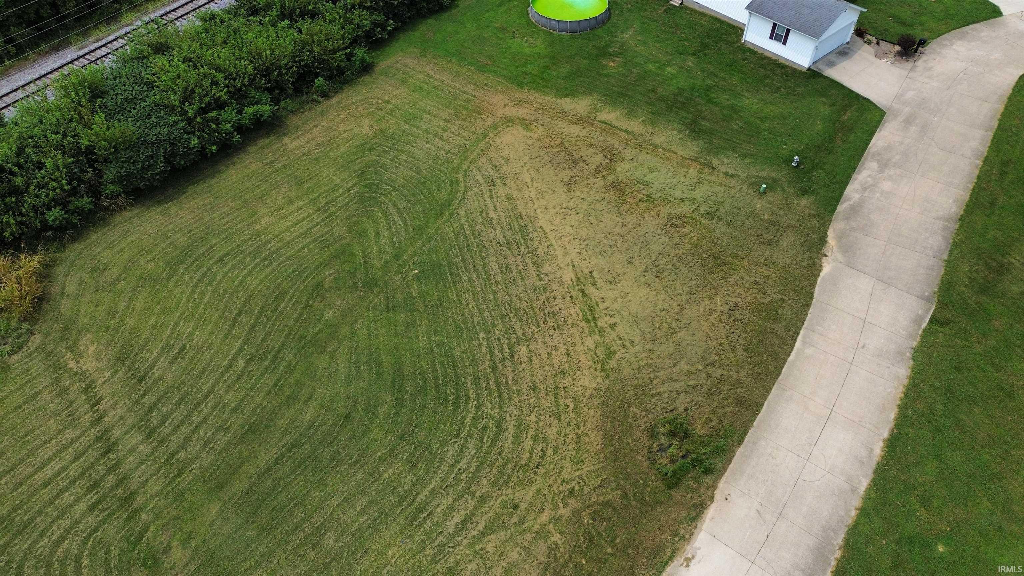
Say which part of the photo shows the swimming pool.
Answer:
top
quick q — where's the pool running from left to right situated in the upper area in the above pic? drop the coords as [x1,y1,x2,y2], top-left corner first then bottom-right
[528,0,609,35]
